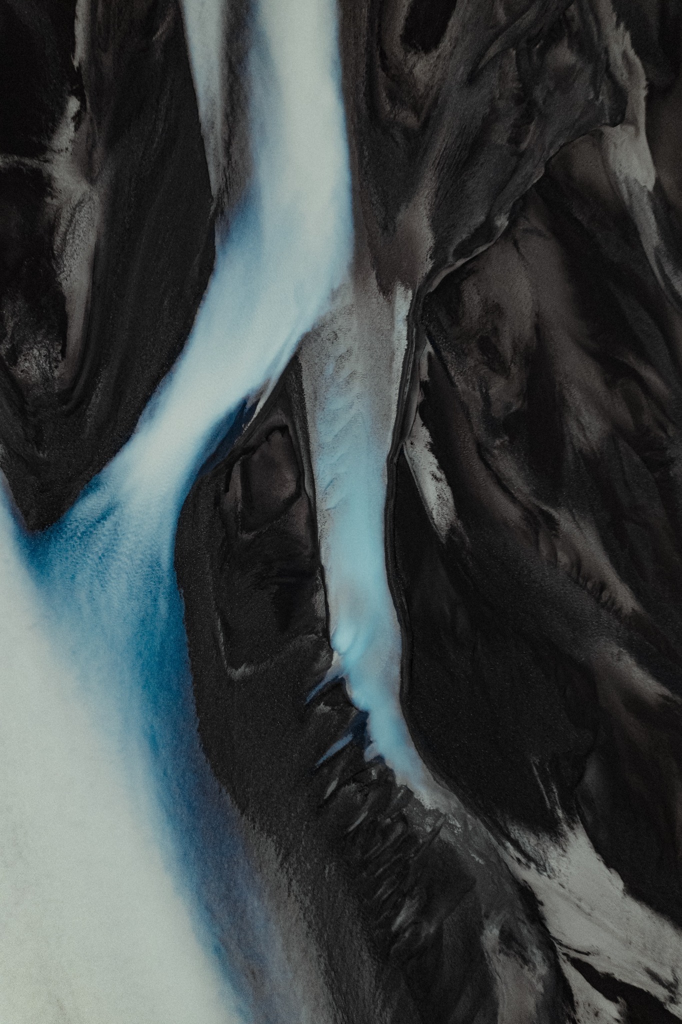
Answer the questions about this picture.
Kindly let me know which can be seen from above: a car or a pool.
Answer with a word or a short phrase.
pool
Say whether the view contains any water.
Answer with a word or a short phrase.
Yes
